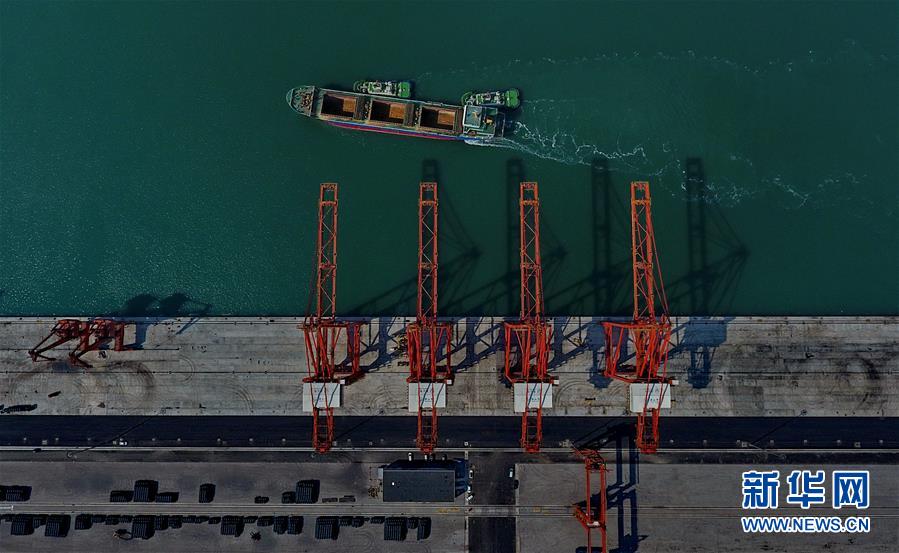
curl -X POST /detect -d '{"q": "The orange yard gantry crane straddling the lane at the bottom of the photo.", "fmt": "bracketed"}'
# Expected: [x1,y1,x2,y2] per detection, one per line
[574,448,617,553]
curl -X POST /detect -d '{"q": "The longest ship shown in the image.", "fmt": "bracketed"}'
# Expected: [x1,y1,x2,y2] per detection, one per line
[285,86,505,140]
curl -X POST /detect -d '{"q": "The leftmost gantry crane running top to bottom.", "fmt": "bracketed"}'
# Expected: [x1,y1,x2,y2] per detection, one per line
[298,183,366,455]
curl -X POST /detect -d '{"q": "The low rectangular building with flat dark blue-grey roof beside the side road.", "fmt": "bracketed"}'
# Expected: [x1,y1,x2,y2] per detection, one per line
[383,466,454,502]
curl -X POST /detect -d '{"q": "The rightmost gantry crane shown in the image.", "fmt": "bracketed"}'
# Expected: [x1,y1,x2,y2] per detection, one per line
[596,182,678,456]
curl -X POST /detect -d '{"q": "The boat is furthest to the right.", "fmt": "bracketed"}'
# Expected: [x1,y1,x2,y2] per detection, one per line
[461,88,520,108]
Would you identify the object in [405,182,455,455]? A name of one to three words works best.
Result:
container crane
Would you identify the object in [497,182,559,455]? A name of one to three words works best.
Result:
container crane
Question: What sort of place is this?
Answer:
port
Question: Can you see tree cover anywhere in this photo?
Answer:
No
